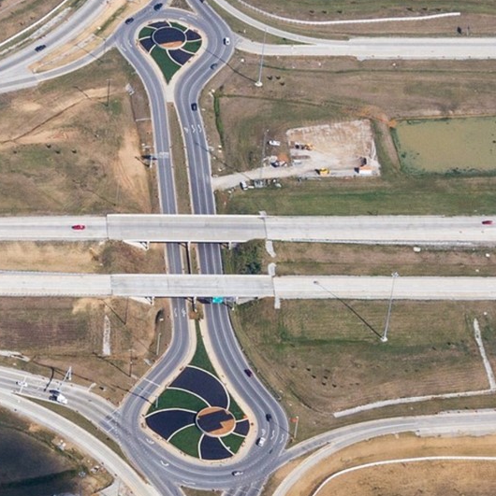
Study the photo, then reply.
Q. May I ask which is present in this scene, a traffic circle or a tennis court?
traffic circle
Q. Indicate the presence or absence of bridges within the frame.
Yes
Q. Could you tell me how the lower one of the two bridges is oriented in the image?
from left to right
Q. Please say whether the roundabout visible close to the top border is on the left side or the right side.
left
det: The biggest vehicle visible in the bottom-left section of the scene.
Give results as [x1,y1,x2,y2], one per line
[47,389,69,403]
